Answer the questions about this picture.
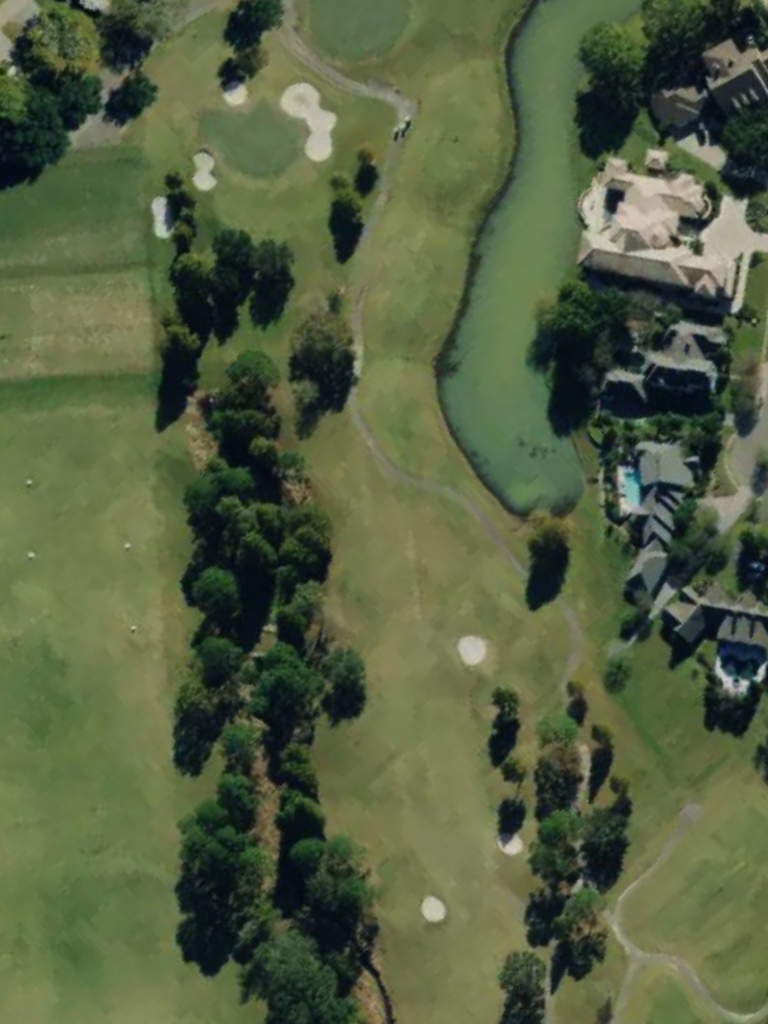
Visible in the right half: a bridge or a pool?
pool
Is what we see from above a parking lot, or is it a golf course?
golf course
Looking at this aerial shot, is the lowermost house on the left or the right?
right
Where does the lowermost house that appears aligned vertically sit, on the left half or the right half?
right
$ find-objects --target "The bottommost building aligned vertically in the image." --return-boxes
[625,438,700,592]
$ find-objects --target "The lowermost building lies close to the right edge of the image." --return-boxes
[668,579,768,647]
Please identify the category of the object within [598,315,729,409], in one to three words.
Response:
house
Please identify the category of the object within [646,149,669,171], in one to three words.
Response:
building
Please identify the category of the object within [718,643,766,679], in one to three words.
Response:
swimming pool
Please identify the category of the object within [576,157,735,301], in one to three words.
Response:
house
